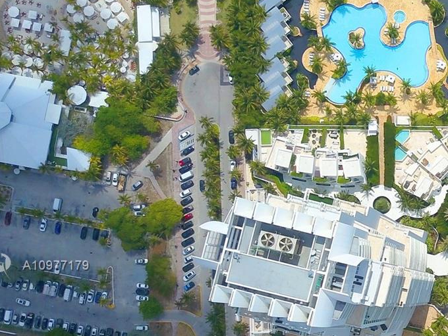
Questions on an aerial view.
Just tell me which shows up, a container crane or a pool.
pool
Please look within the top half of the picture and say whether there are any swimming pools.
Yes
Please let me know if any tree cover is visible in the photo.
Yes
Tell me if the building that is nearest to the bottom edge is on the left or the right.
right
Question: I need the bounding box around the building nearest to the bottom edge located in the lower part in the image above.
[193,199,435,336]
